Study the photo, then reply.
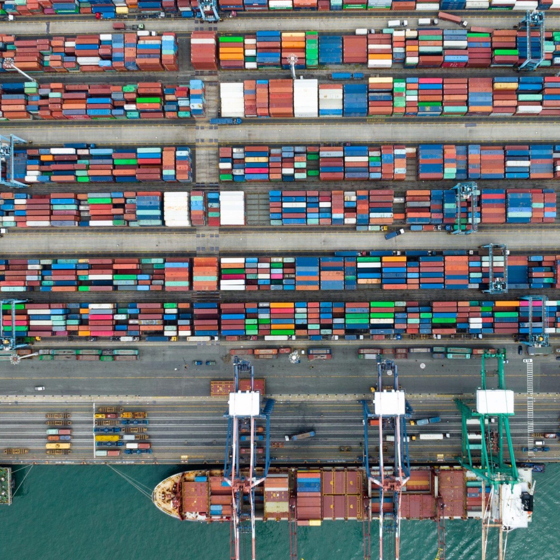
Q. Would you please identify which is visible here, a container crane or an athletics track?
container crane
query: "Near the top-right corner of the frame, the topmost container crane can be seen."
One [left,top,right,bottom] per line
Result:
[512,9,546,73]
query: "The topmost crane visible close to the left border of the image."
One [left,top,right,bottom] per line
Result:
[0,134,35,190]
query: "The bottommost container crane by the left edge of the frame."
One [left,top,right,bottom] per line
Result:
[0,298,36,349]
